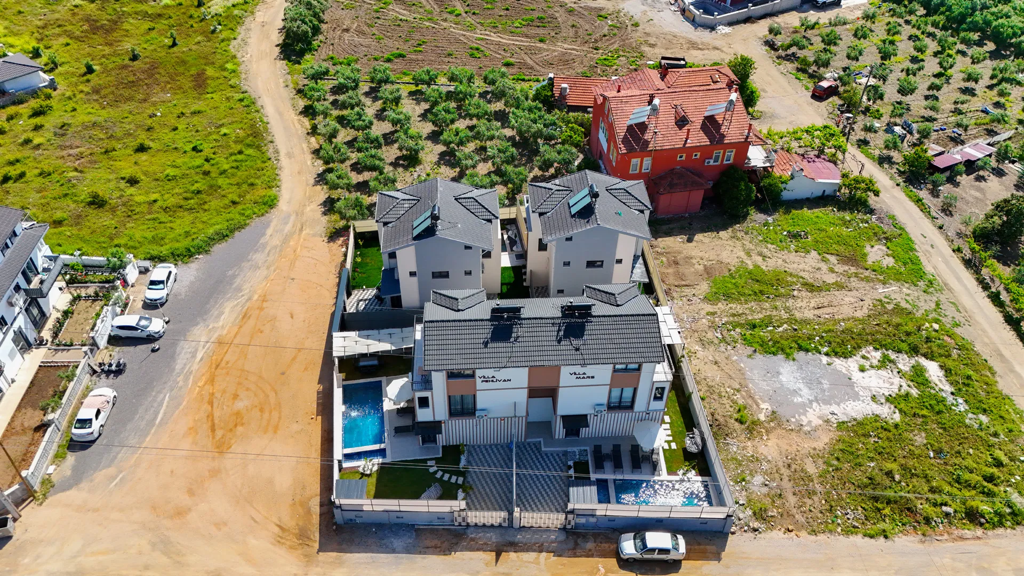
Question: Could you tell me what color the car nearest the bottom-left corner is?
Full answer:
From above, the car nearest the bottom-left corner appears white.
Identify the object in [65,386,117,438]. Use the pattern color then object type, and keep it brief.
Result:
white car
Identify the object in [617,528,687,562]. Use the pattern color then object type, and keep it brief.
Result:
white car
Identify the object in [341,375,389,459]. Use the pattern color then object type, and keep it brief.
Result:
blue swimming pool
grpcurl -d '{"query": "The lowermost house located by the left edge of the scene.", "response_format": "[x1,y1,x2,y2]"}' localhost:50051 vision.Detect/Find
[0,203,79,394]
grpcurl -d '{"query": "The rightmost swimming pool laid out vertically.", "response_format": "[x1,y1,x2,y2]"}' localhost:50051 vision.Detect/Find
[593,473,610,507]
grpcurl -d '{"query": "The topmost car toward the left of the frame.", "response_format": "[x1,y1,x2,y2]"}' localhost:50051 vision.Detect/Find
[140,261,177,302]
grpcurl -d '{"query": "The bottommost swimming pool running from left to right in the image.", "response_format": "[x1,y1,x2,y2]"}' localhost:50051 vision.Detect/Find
[606,474,719,511]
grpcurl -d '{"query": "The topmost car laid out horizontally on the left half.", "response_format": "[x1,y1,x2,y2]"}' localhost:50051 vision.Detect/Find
[106,308,168,337]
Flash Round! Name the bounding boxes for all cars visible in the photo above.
[106,308,168,337]
[617,528,687,562]
[812,80,841,97]
[65,386,117,438]
[140,261,177,302]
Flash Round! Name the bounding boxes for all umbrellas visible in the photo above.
[382,380,415,414]
[629,421,667,454]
